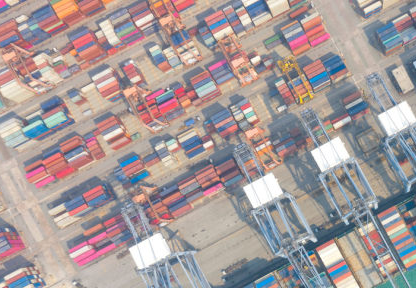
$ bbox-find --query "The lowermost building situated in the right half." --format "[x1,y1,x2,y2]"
[392,66,414,94]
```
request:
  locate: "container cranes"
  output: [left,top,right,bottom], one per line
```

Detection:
[123,85,168,134]
[156,11,194,65]
[216,33,256,85]
[1,46,54,97]
[277,54,314,105]
[231,140,328,288]
[363,68,416,196]
[297,104,412,288]
[119,202,215,288]
[128,185,174,229]
[245,131,283,176]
